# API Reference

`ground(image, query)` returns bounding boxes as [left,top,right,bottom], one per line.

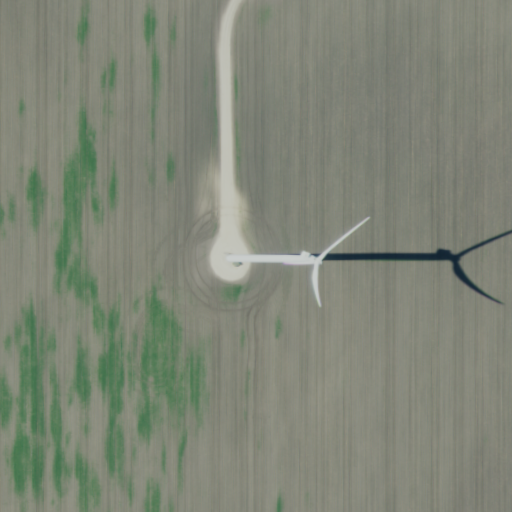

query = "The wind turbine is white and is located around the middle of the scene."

[224,216,369,308]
